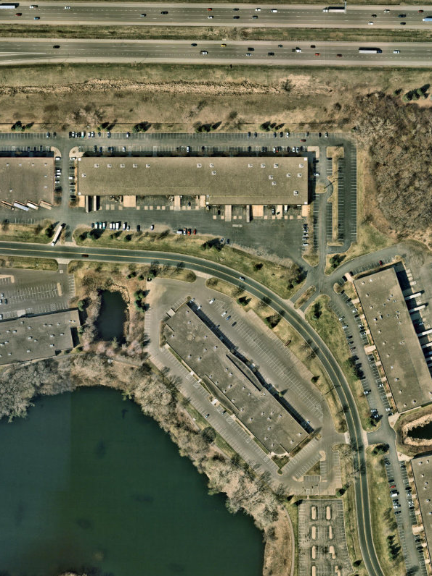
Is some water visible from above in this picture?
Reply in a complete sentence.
Yes, the picture does contain water.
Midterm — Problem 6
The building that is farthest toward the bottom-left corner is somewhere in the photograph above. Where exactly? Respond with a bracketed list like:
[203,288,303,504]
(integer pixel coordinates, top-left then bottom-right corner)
[0,310,81,364]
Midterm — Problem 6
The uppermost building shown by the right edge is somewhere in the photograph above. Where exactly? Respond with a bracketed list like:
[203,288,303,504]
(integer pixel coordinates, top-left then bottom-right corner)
[354,268,432,413]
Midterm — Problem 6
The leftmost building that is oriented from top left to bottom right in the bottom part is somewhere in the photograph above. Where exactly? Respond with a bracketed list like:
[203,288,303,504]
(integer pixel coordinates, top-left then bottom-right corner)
[166,304,308,453]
